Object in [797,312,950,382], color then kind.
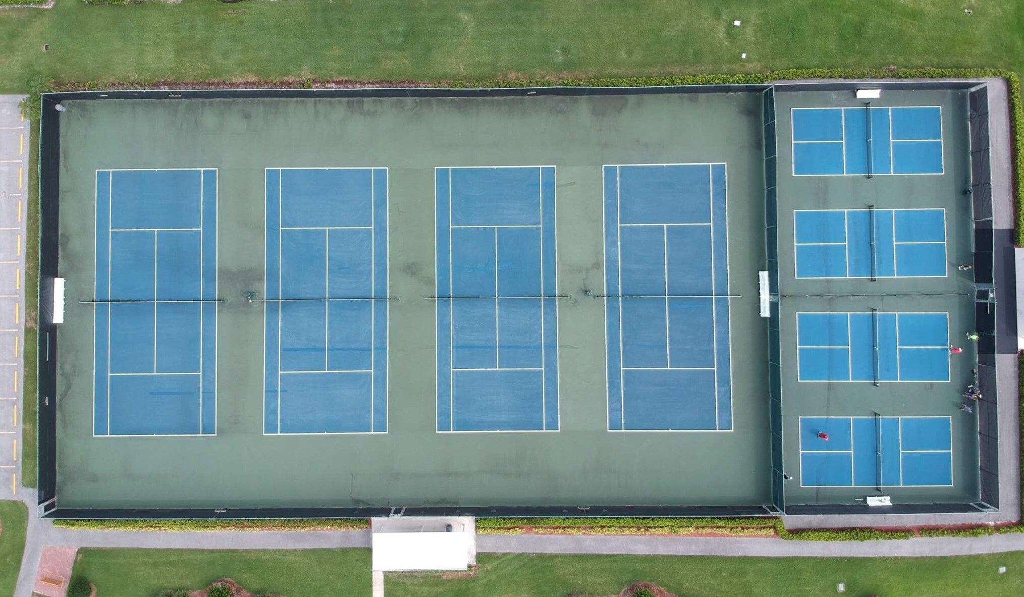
blue sports court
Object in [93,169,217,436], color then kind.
blue tennis court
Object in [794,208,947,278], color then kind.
blue sports court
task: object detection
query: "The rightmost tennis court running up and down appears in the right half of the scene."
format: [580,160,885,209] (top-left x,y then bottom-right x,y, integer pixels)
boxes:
[603,163,732,432]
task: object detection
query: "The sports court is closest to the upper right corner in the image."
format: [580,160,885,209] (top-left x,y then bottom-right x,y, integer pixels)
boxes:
[792,106,943,176]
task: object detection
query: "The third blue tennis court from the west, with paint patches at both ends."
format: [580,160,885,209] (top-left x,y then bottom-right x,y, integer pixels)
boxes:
[434,165,560,433]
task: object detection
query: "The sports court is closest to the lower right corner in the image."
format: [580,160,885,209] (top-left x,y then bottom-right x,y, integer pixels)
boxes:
[799,416,953,487]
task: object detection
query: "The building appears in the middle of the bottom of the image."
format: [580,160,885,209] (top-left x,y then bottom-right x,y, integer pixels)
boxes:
[373,524,468,572]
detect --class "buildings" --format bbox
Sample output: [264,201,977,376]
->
[373,524,468,572]
[1003,240,1024,373]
